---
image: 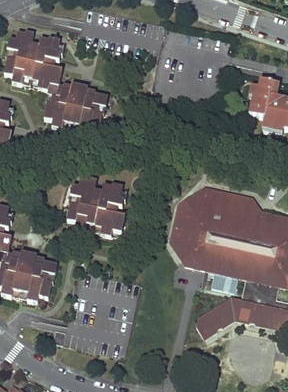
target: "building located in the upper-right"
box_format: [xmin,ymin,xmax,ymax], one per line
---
[248,76,288,136]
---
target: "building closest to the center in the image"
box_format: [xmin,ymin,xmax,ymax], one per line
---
[65,178,127,238]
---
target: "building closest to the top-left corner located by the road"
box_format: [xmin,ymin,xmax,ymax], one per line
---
[2,30,64,99]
